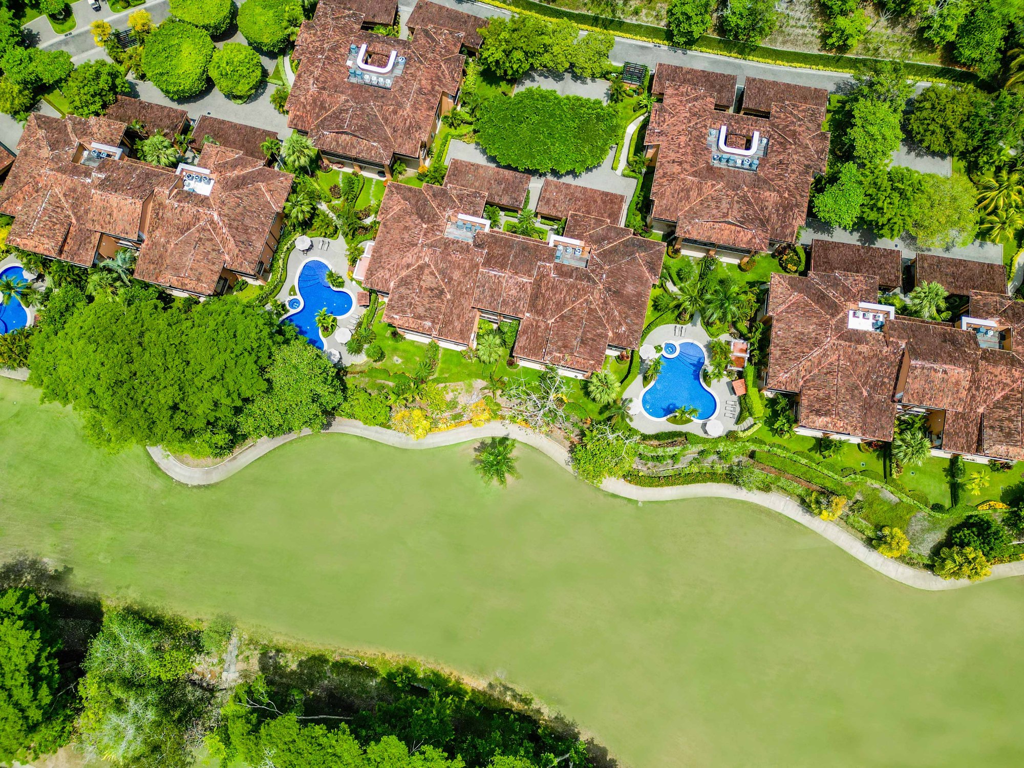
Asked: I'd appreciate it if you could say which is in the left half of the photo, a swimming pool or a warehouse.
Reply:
swimming pool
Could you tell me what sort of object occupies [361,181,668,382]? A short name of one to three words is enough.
house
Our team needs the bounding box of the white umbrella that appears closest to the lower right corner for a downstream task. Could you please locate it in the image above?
[705,420,721,436]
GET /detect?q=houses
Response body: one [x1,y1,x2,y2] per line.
[361,181,668,382]
[646,80,829,266]
[285,1,466,179]
[0,111,298,307]
[761,268,1024,470]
